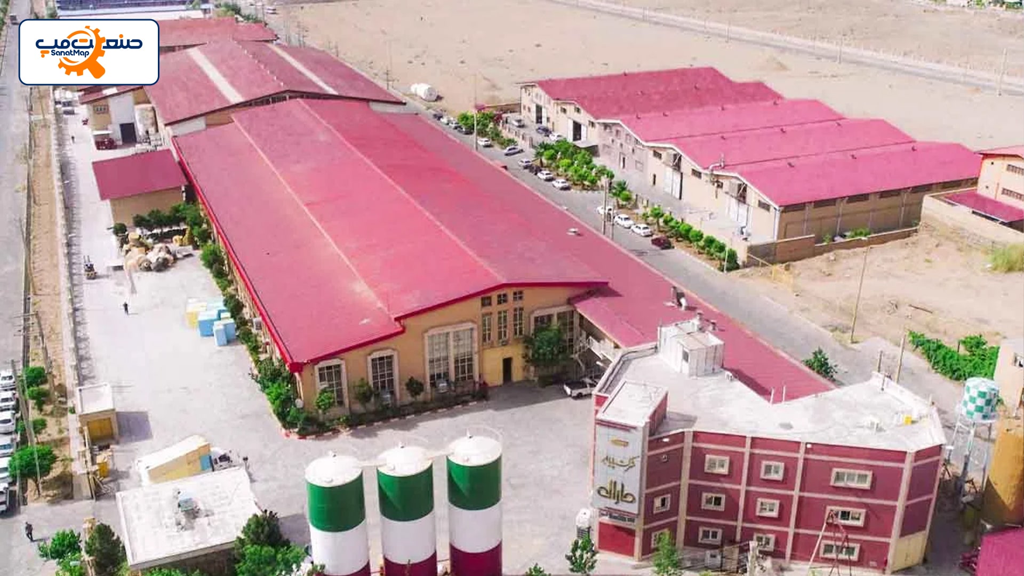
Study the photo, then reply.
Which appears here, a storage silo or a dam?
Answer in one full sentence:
The image shows a storage silo.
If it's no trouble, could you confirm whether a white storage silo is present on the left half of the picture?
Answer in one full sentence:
Yes, a white storage silo can be seen on the left half of the picture.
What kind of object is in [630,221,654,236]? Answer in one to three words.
car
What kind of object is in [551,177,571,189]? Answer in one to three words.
vehicle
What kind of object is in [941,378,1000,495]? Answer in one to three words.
water tower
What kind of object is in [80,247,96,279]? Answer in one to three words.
work vehicle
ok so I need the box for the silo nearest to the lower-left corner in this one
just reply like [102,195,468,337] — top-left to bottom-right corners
[306,450,369,576]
